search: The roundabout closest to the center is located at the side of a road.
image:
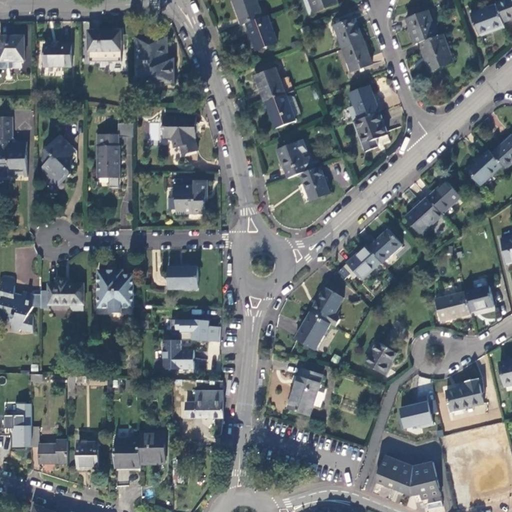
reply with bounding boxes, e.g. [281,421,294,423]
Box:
[222,206,316,328]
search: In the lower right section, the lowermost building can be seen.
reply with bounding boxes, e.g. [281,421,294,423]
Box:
[366,450,446,512]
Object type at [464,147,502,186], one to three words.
house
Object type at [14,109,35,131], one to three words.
shed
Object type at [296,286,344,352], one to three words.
house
